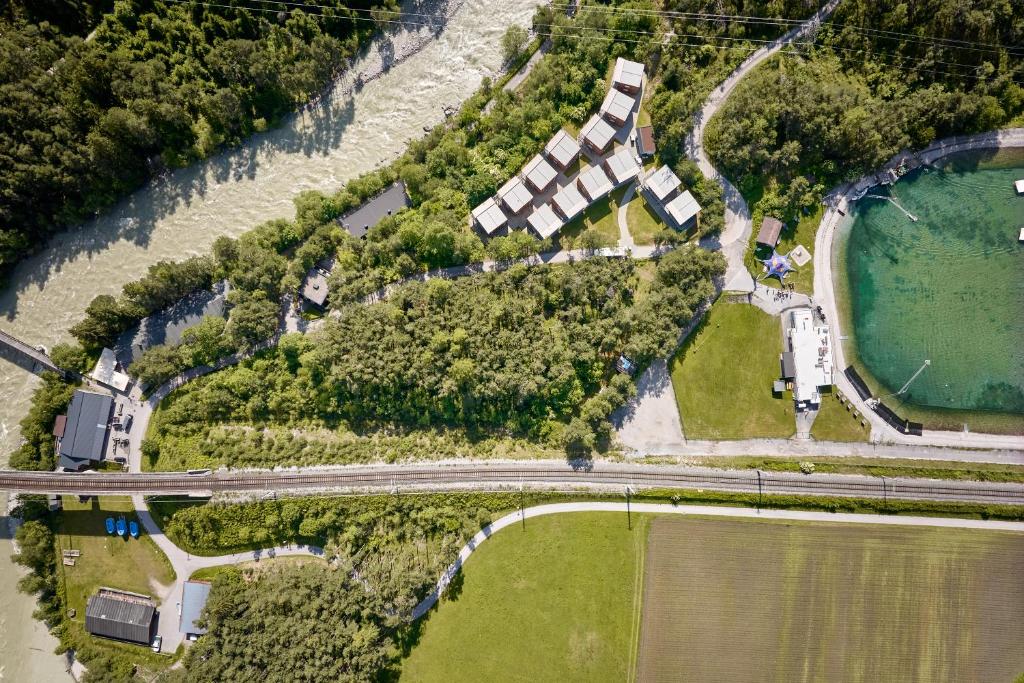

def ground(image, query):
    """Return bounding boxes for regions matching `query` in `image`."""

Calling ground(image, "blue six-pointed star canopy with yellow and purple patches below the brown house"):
[751,249,800,285]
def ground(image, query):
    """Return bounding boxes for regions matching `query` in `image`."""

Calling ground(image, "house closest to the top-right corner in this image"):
[753,216,783,247]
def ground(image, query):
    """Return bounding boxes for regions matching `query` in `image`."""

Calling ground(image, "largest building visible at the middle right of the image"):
[783,311,832,403]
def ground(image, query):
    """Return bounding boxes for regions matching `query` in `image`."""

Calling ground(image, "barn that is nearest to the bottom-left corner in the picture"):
[87,586,161,643]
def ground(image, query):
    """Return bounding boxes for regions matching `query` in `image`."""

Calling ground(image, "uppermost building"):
[610,58,645,94]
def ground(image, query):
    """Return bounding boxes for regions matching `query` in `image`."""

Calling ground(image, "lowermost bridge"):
[0,461,213,504]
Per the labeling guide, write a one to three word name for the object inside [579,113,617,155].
house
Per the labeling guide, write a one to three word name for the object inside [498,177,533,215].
house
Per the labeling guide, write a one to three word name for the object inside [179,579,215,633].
building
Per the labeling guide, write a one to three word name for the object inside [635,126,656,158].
shed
